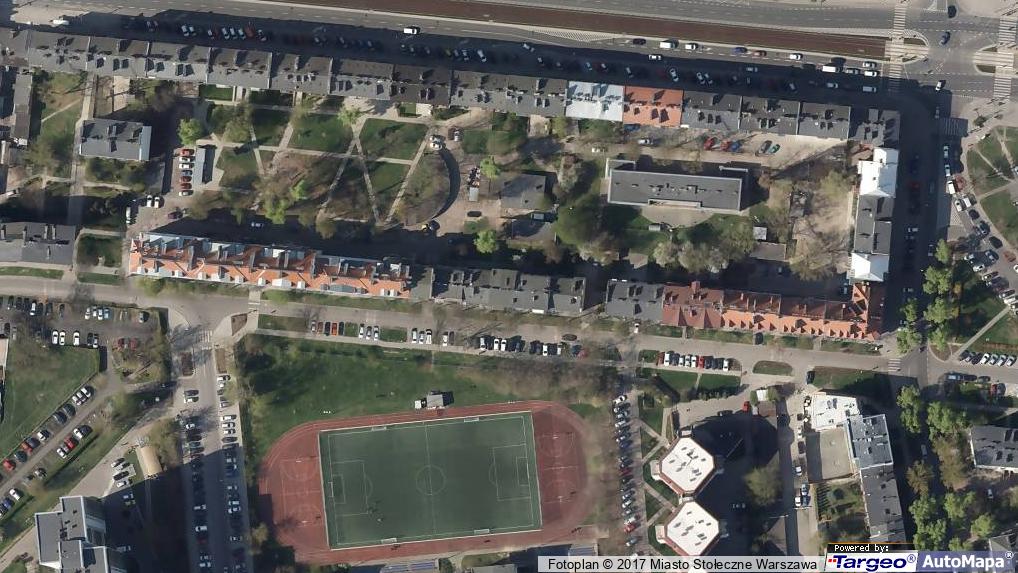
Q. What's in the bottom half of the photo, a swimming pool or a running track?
running track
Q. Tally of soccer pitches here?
1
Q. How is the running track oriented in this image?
from left to right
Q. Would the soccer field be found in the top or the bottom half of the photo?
bottom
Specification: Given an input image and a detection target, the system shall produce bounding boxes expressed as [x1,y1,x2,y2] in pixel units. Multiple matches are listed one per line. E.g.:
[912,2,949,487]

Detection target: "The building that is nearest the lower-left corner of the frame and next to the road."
[36,496,126,573]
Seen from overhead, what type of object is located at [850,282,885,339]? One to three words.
house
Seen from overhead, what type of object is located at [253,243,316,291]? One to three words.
building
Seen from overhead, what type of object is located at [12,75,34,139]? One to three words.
shed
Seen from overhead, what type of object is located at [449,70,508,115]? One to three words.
building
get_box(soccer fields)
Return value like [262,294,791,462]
[317,411,542,550]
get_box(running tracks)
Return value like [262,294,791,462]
[258,401,592,564]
